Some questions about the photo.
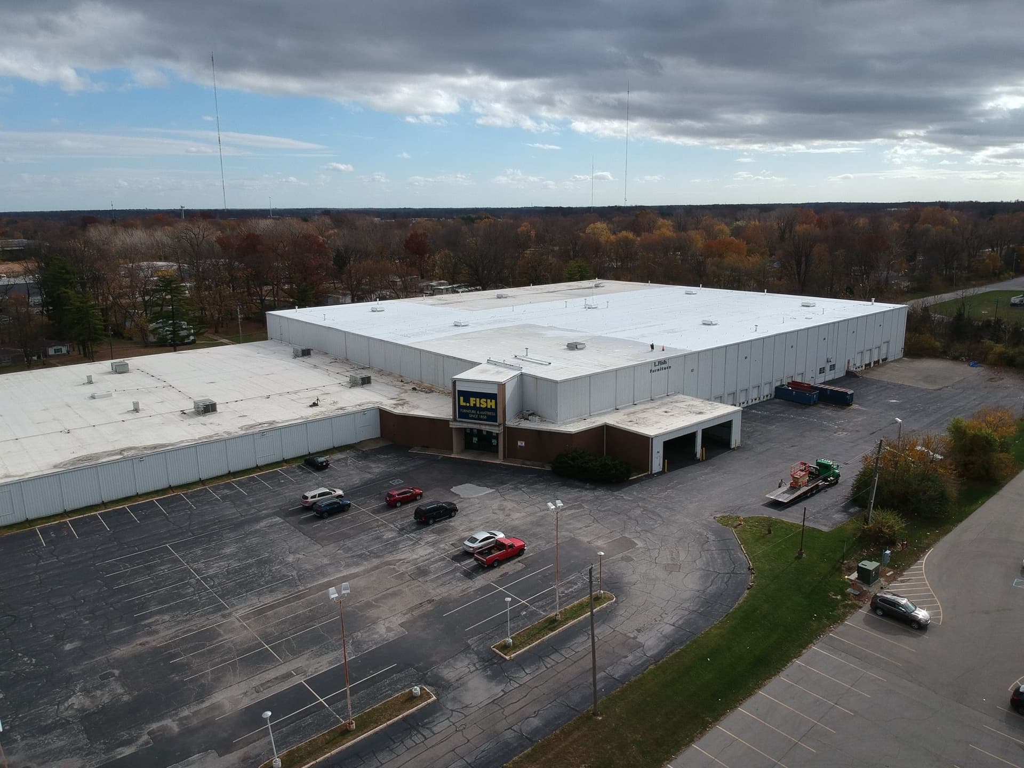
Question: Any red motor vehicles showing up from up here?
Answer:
Yes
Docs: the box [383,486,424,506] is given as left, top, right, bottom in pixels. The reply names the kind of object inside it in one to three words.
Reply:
car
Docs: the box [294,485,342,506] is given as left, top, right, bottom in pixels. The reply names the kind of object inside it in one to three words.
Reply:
car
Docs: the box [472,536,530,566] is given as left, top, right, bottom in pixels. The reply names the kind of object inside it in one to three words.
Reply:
truck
